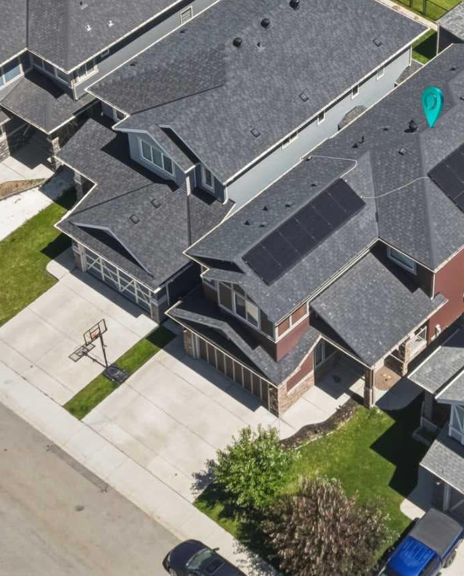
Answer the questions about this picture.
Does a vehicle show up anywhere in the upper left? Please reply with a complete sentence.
No, I can find no vehicle in the upper left.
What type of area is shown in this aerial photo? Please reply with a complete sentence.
This looks like a residential area.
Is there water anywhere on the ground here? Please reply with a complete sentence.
No, the picture contains no water.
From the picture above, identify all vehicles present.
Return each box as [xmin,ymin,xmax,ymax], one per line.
[167,540,245,576]
[366,509,464,576]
